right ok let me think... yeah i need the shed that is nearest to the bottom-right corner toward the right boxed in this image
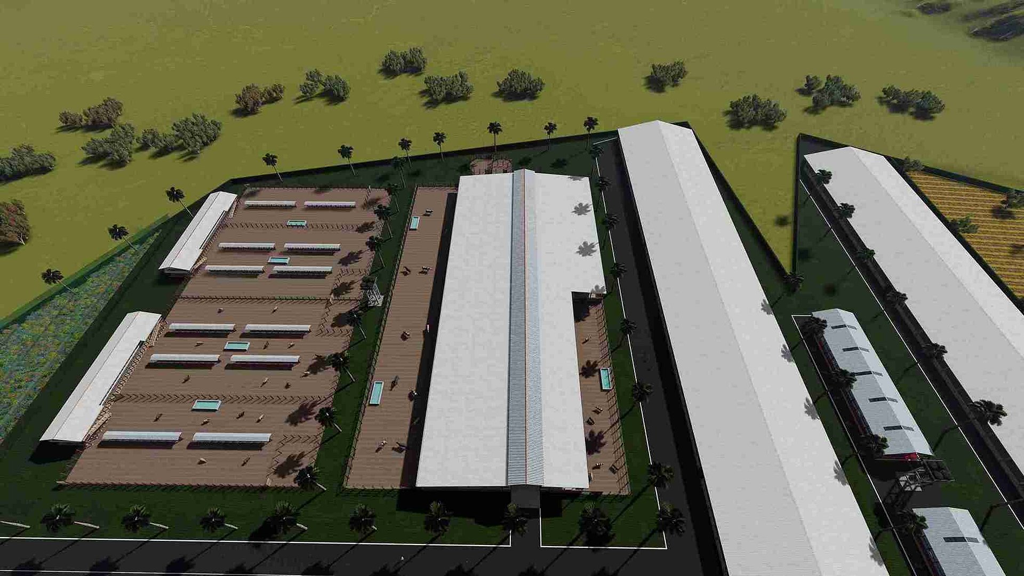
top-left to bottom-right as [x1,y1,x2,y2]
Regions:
[913,506,1004,576]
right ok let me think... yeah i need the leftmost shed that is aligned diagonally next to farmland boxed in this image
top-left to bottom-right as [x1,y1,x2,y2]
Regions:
[42,312,163,445]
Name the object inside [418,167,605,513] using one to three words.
barn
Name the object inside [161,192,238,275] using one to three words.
shed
